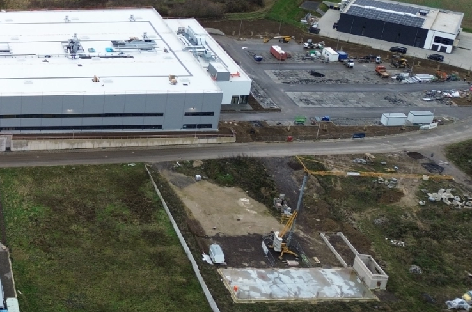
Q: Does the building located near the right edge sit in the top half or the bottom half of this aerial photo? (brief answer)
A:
top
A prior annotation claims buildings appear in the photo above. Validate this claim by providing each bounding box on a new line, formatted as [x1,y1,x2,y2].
[334,0,467,54]
[0,5,252,133]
